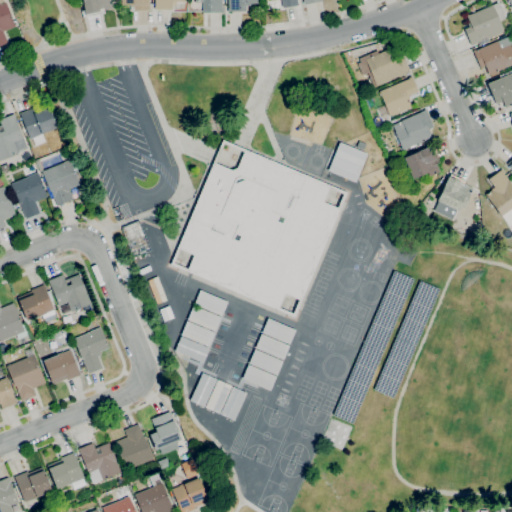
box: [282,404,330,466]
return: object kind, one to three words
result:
basketball court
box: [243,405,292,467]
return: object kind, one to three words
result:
basketball court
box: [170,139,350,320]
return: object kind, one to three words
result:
building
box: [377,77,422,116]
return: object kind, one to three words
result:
house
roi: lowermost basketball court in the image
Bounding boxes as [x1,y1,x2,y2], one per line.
[260,457,308,512]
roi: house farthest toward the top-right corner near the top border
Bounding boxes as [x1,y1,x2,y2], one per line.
[466,5,506,46]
